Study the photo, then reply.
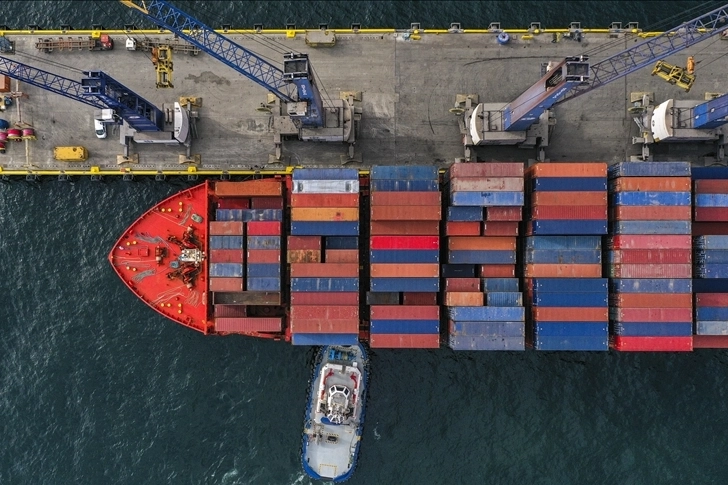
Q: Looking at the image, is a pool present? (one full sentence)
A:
No, there's no pool here.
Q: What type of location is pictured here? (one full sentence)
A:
This looks like a port.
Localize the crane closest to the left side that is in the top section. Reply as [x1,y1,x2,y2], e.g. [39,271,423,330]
[0,48,205,161]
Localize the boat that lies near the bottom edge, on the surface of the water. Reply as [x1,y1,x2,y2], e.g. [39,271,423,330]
[300,339,370,485]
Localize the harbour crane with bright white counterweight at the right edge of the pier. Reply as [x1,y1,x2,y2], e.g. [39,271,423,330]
[631,92,728,164]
